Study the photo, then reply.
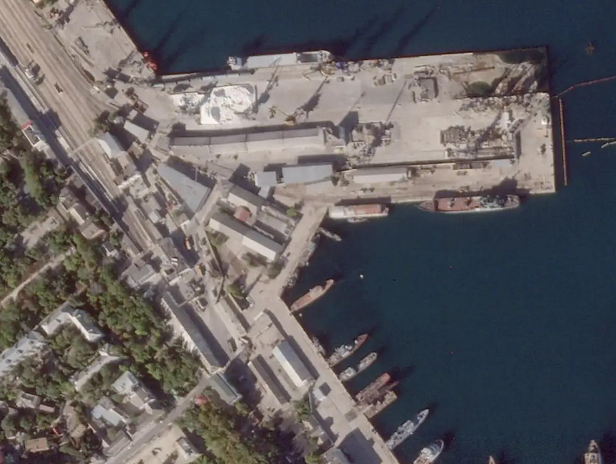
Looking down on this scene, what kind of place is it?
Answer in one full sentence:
The area seen from above is a port.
